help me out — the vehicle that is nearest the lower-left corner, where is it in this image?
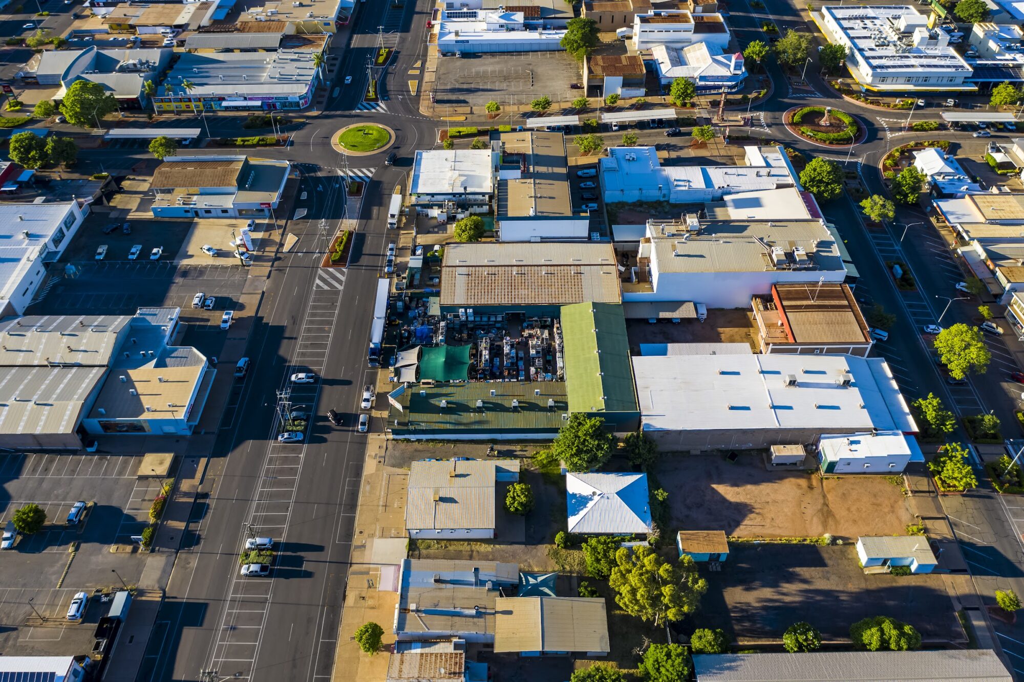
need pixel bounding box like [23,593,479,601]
[63,592,91,622]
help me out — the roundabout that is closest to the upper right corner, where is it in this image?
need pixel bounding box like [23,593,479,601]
[782,104,870,149]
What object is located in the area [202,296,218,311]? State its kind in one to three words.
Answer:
car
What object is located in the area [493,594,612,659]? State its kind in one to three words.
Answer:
house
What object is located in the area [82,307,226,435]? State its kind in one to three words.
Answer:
building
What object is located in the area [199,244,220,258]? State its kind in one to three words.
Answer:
vehicle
